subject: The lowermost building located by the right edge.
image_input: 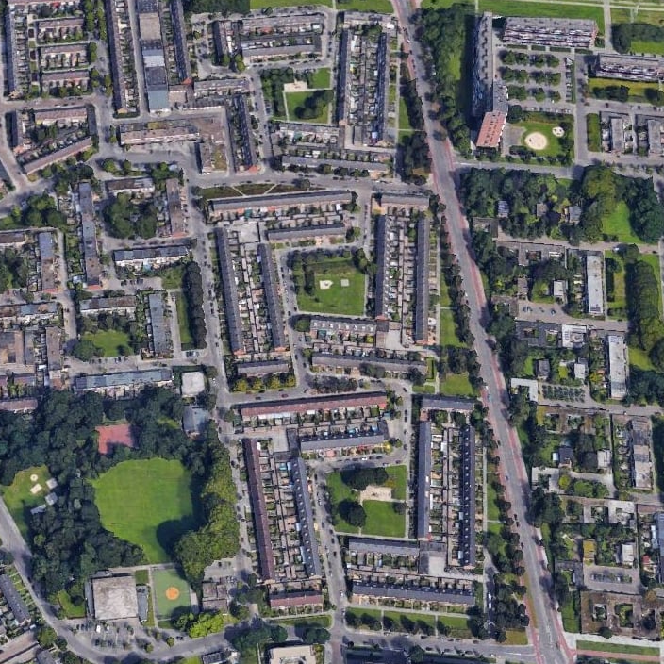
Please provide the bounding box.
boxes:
[579,591,664,640]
